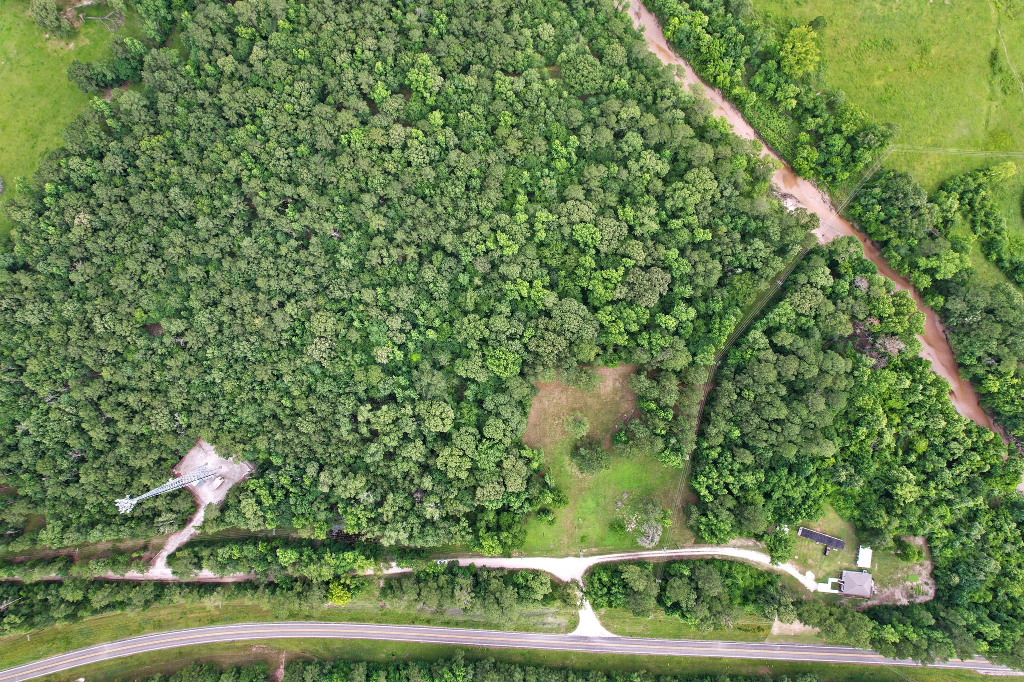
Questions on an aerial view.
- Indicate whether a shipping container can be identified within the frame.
No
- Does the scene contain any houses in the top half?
No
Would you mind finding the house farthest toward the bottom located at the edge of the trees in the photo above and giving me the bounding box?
[836,570,873,598]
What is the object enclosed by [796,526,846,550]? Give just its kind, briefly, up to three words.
house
